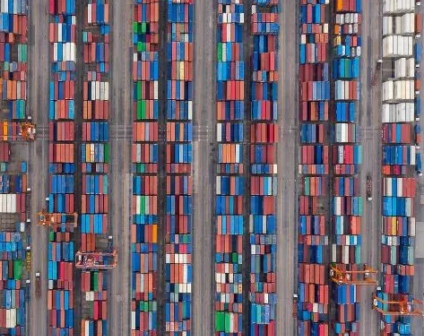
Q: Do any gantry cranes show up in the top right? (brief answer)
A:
No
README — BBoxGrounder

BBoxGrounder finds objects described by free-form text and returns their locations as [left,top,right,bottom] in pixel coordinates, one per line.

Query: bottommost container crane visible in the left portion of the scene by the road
[75,244,118,270]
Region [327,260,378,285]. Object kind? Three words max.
container crane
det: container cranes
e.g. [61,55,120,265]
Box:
[368,289,423,316]
[37,207,80,230]
[75,244,118,270]
[327,260,378,285]
[0,122,38,145]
